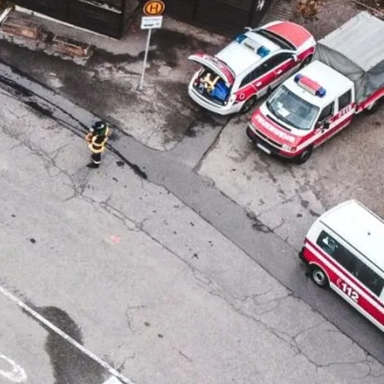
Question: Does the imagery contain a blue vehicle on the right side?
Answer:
No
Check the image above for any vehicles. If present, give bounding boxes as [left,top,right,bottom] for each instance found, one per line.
[242,3,384,166]
[182,14,318,124]
[298,196,384,332]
